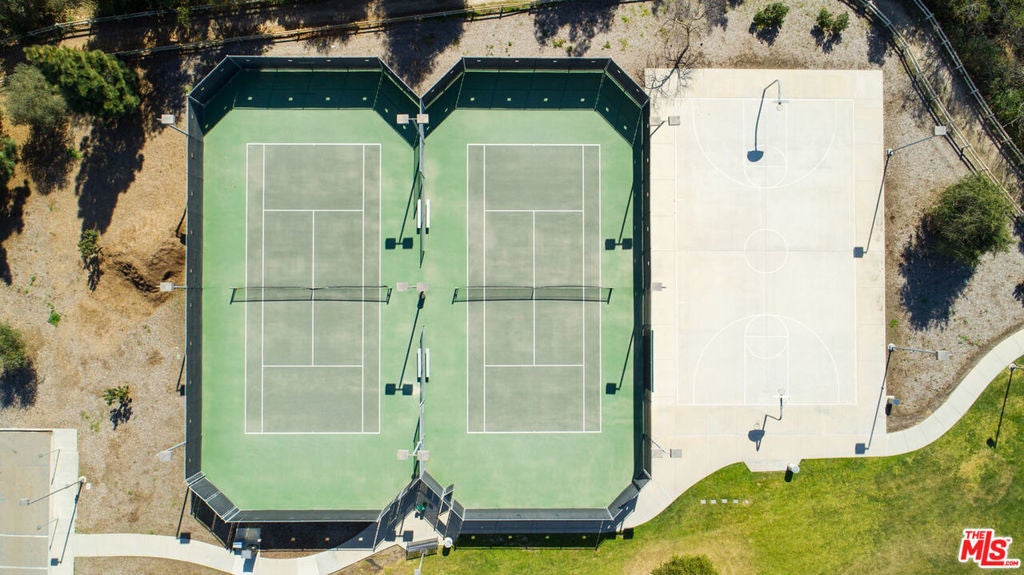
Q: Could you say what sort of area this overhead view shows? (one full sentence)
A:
It's a sports ground.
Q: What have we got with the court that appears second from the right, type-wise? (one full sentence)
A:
I'd identify the court that appears second from the right as a tennis court.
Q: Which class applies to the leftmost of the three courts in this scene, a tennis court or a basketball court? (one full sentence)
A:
I'd identify the leftmost of the three courts as a tennis court.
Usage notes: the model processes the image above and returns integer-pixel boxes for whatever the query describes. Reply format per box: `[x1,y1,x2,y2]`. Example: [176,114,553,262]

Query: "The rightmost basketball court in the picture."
[615,69,1024,529]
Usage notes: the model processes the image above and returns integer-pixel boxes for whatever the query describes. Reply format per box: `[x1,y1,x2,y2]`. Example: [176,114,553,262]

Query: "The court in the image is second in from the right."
[425,69,644,509]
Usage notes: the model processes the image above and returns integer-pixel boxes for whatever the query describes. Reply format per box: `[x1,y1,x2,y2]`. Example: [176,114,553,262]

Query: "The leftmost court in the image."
[202,67,425,510]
